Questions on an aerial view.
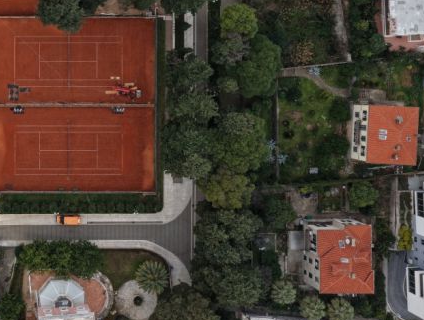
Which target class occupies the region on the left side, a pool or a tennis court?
tennis court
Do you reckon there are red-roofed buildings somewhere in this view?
Yes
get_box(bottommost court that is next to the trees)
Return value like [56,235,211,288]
[0,107,155,191]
